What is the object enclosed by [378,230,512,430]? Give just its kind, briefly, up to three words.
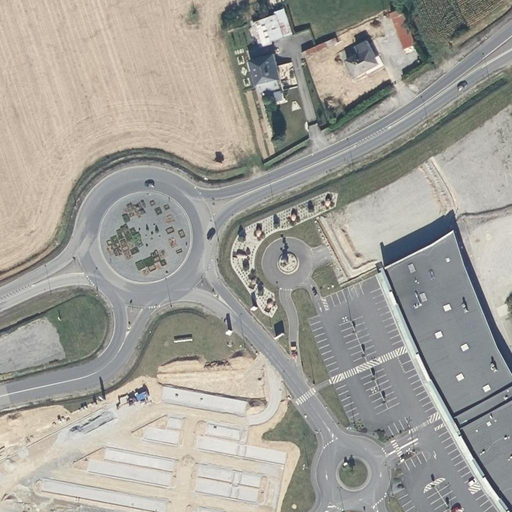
building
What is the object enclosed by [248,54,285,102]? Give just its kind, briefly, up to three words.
house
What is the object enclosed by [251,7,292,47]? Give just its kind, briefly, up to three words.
shed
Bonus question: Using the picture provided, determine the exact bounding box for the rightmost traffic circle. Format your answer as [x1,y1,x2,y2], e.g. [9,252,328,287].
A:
[317,434,390,512]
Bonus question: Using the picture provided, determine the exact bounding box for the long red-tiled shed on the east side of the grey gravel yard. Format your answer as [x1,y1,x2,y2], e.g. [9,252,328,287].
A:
[390,10,414,54]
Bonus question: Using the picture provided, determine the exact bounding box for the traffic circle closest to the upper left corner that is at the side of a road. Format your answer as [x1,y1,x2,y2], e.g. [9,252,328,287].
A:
[76,167,216,307]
